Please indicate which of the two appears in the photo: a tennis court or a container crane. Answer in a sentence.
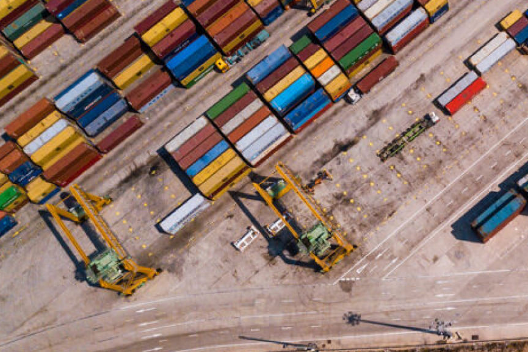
The one in the frame is a container crane.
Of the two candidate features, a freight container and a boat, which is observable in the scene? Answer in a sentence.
It is a freight container that can be seen here.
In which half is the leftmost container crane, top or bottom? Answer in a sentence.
The leftmost container crane is in the bottom half of the image.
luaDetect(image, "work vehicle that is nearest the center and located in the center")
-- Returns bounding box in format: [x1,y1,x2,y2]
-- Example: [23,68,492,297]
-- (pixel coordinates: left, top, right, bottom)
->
[304,167,331,190]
